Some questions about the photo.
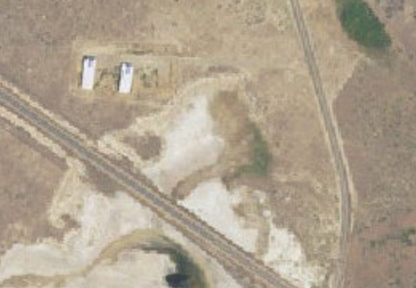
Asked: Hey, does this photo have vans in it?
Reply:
No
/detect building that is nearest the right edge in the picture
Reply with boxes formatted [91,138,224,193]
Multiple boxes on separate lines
[118,63,132,93]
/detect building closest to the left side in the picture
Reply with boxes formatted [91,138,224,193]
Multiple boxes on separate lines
[82,56,96,90]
